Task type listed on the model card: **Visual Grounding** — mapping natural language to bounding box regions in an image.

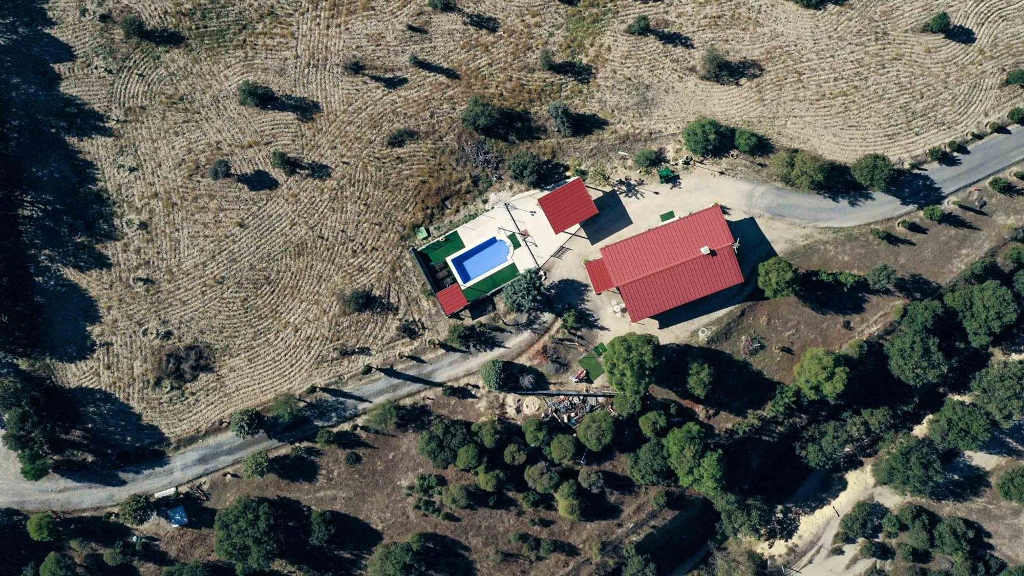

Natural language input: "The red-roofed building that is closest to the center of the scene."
[436,283,469,316]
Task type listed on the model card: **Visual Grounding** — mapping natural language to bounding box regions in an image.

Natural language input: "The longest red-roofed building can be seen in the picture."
[585,205,744,322]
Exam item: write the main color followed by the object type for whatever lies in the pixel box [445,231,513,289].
blue swimming pool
